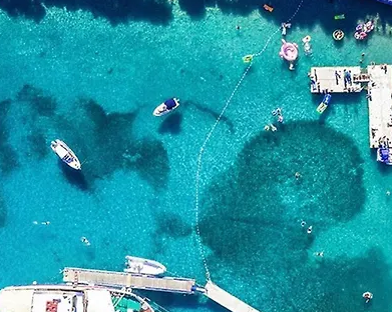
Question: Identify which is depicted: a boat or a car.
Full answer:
The image shows a boat.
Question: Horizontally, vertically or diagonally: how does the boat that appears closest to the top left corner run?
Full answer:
The boat that appears closest to the top left corner is oriented diagonally.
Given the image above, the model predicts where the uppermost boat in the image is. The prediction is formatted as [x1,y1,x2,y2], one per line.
[154,96,182,116]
